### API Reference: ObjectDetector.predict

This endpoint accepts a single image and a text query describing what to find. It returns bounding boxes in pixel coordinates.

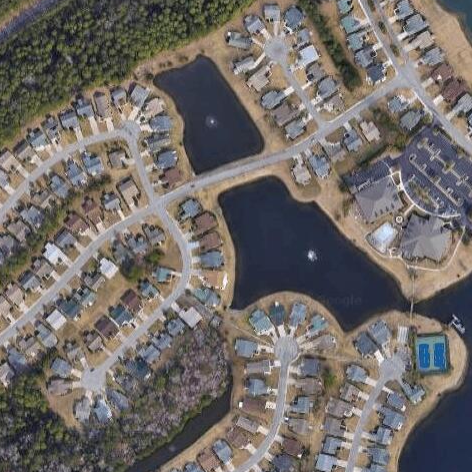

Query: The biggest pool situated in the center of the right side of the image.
[367,220,400,253]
